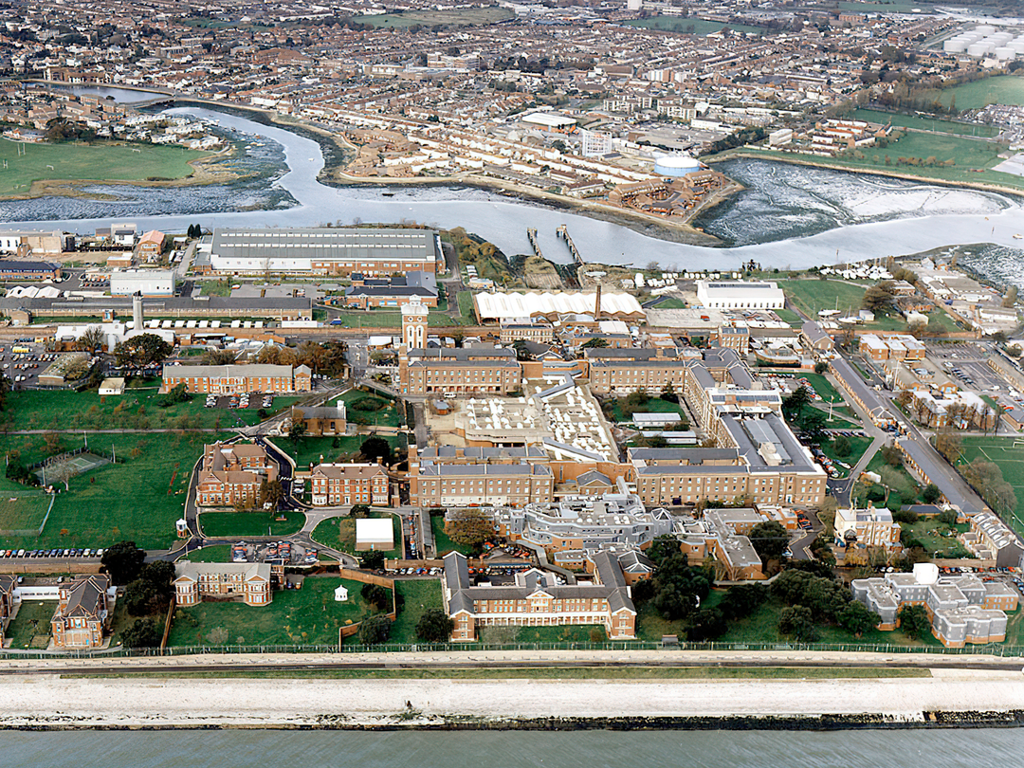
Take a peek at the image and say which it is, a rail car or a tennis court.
tennis court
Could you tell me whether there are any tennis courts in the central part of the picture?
No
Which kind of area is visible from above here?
residential area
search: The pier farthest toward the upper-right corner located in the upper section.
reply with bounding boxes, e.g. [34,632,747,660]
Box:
[552,219,585,265]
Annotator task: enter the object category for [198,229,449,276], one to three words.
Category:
building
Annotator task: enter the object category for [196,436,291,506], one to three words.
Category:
house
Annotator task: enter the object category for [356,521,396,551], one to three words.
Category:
building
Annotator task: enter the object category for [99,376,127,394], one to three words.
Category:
shed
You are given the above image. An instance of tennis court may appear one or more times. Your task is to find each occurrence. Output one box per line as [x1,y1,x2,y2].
[39,452,111,489]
